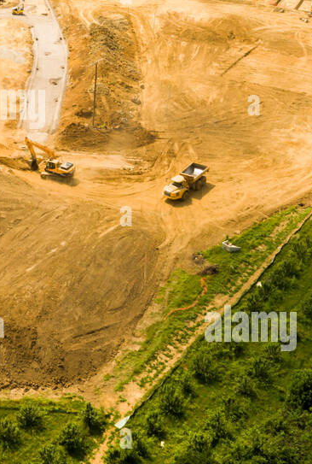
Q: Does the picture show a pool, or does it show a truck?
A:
truck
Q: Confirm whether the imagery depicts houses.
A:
No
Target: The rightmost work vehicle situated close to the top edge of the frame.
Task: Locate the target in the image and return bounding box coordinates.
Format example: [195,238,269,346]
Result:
[12,0,27,14]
